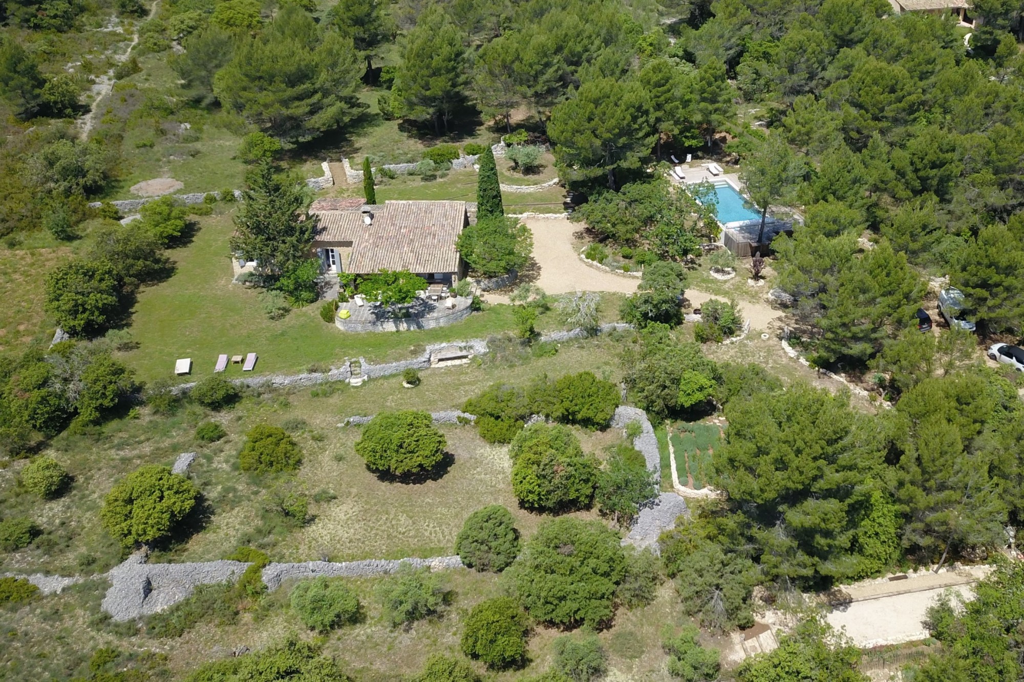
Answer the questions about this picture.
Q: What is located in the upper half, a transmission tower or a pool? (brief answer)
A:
pool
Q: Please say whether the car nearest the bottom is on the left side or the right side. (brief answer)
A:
right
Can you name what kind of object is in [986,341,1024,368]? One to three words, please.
car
